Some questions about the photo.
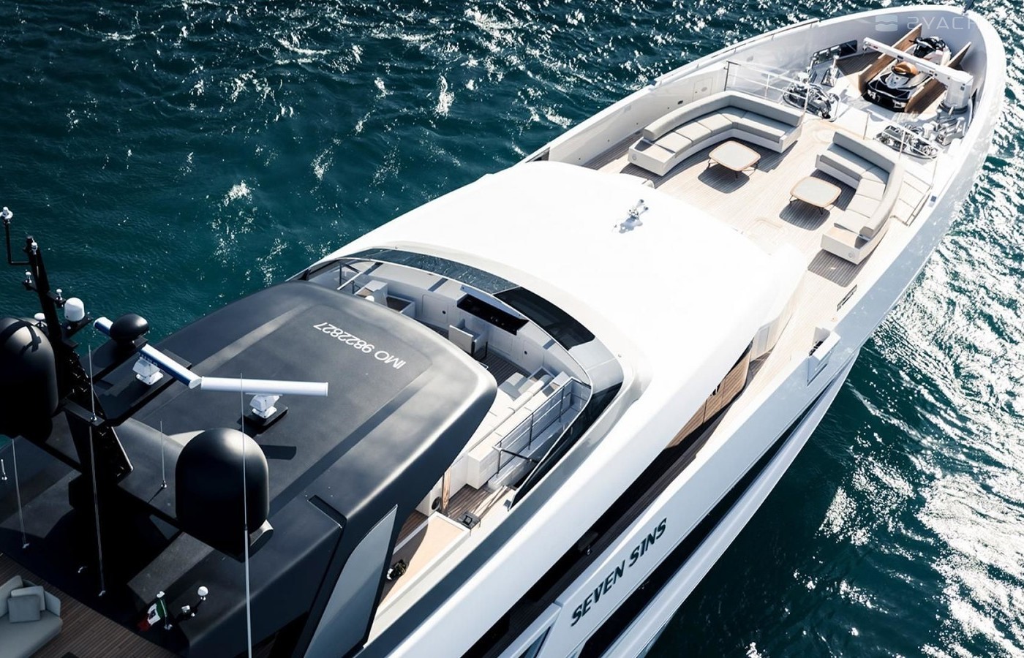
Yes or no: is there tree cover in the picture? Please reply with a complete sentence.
No, there is no tree cover in the image.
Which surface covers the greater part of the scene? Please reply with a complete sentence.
For the most part, this view shows water.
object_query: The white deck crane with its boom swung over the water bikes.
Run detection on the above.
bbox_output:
[863,37,977,126]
